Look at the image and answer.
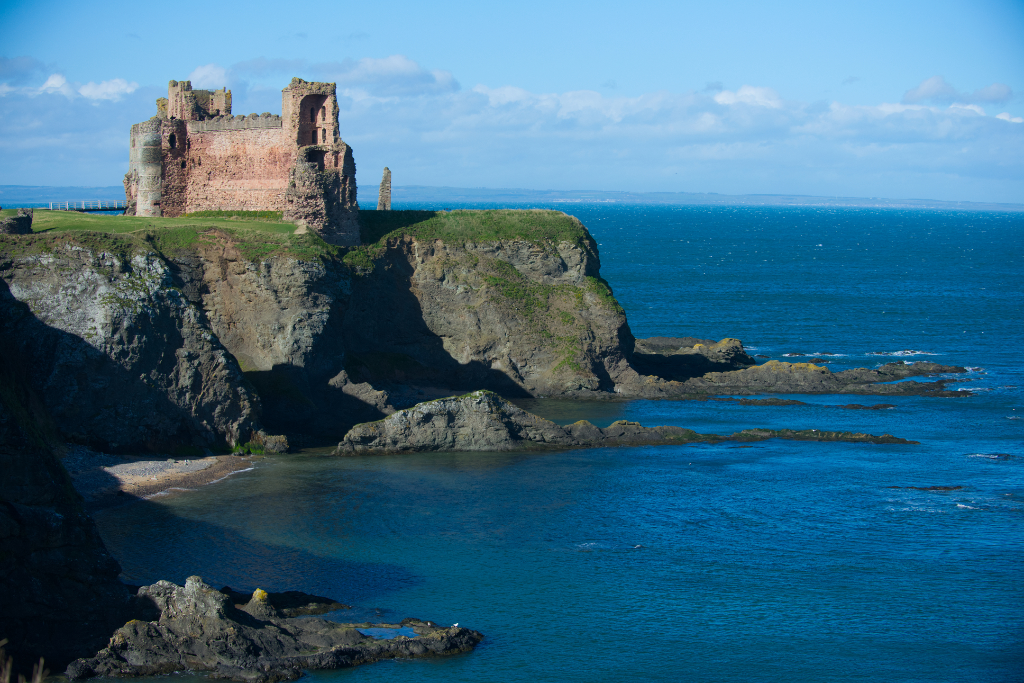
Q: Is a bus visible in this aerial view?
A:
No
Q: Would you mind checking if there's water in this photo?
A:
Yes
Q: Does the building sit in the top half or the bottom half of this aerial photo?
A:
top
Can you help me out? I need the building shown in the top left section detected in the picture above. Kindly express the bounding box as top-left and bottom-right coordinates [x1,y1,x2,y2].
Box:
[124,77,366,248]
